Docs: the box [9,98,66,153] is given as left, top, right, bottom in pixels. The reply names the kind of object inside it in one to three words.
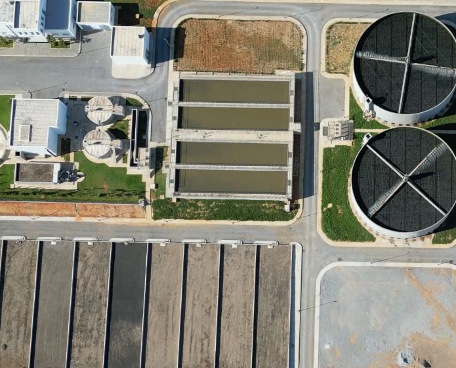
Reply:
building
